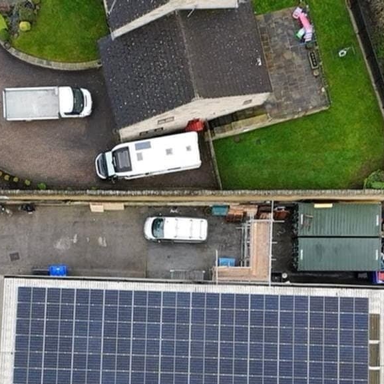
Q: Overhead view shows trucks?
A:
Yes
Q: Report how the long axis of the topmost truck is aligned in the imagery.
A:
from side to side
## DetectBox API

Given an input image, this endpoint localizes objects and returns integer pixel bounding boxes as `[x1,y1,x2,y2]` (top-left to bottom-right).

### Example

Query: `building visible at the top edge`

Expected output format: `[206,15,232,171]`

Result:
[86,0,276,137]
